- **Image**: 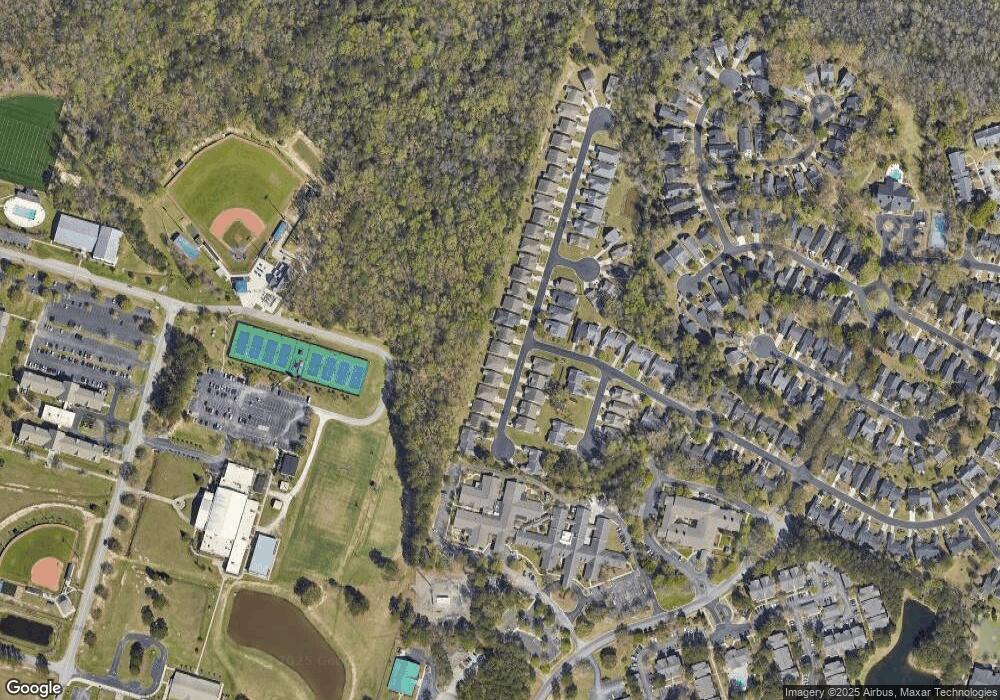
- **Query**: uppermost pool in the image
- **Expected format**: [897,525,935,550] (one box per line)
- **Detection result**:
[887,164,903,181]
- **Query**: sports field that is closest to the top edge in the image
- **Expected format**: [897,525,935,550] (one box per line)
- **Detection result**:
[0,95,62,190]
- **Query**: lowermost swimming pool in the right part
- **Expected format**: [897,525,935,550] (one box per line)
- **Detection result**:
[728,667,748,691]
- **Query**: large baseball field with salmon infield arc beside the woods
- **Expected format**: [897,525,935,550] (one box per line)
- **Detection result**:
[165,134,305,279]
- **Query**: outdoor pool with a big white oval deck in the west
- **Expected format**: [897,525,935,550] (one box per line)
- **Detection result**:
[4,198,45,226]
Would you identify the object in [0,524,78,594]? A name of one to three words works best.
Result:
baseball field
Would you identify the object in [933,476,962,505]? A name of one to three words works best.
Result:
house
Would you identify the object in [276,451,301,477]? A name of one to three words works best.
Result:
building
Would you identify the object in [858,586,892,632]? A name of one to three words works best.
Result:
building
